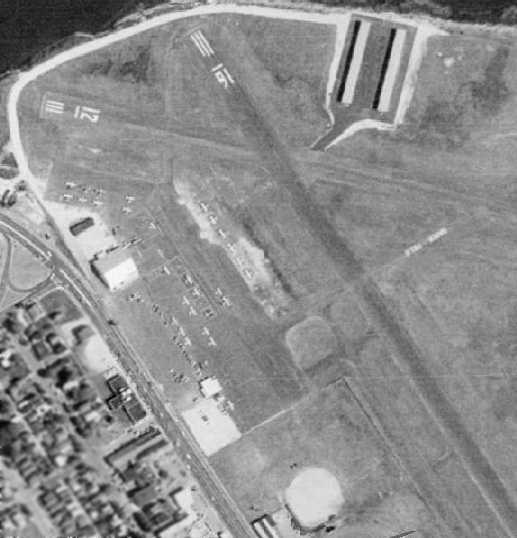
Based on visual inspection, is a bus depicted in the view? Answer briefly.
No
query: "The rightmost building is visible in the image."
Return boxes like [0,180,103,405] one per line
[378,30,406,113]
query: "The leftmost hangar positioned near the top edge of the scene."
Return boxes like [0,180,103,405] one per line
[342,24,370,105]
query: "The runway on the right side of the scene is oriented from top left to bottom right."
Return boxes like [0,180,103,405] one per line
[182,23,517,538]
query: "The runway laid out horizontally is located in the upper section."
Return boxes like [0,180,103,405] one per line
[39,91,517,205]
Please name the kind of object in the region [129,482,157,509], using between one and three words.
building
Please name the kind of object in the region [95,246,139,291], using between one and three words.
hangar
